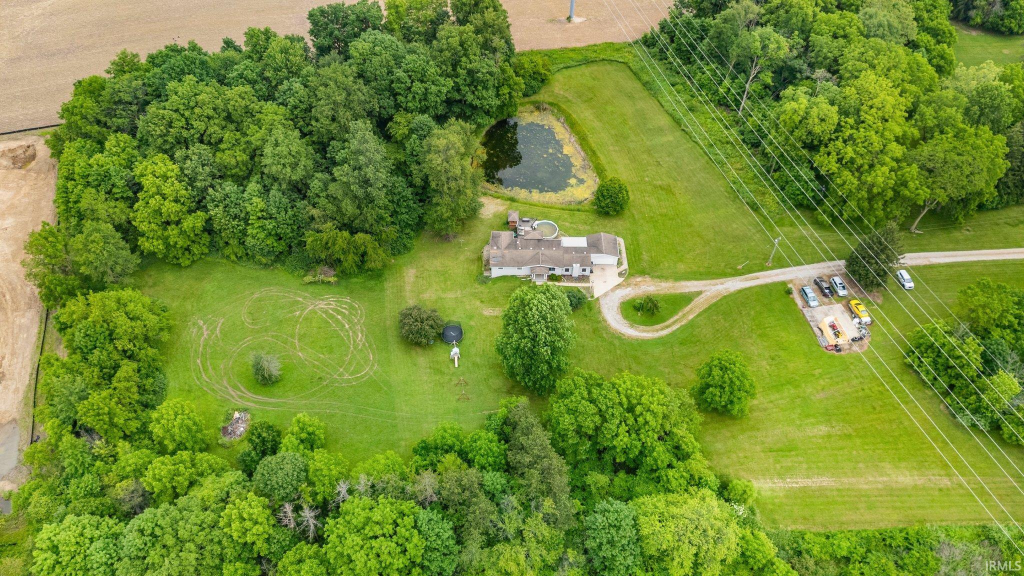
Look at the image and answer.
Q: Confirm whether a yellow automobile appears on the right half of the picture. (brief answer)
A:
Yes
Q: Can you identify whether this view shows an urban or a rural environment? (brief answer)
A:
rural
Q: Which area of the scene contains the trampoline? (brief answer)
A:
center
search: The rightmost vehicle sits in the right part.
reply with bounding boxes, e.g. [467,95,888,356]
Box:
[899,270,914,286]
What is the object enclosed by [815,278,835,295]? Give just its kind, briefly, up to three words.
vehicle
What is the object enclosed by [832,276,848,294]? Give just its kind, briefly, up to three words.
car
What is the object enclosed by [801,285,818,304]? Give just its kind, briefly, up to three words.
car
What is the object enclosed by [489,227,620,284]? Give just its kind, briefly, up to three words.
house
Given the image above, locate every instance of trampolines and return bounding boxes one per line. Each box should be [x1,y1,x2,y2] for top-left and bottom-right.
[441,324,464,345]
